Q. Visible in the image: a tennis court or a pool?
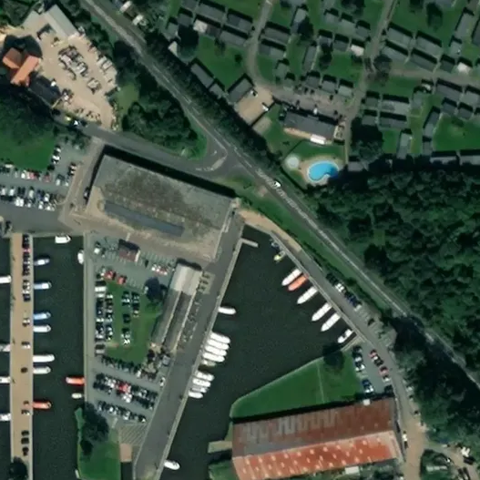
pool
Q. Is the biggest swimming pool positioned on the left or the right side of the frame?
right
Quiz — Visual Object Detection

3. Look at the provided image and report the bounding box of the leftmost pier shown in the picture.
[10,236,33,480]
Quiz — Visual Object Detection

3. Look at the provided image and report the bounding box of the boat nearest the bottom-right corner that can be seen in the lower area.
[339,328,354,342]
